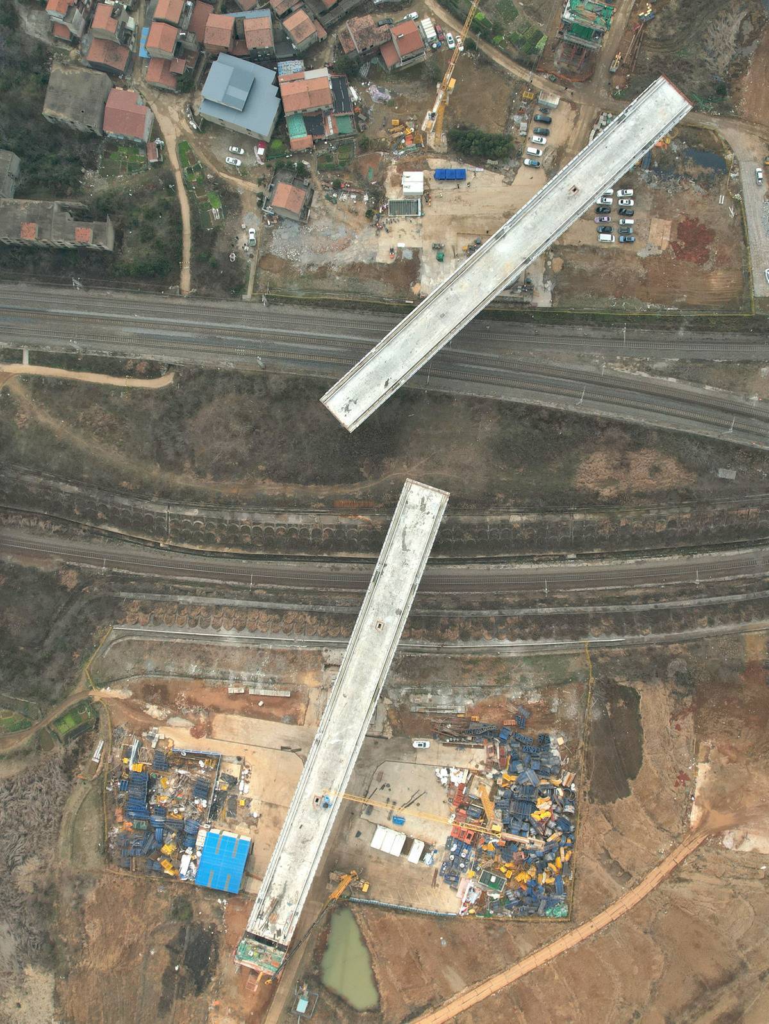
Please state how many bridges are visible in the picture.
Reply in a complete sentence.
In total, 2 bridges can be seen.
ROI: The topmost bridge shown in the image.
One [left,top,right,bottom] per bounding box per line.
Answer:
[321,75,693,431]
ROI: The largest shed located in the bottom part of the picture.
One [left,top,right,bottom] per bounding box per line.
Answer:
[195,823,253,893]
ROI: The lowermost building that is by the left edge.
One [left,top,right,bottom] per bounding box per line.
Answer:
[0,198,114,254]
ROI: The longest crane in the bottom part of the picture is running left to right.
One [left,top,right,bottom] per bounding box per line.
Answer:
[324,774,543,849]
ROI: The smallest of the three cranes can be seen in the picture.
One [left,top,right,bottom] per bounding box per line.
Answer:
[267,866,370,985]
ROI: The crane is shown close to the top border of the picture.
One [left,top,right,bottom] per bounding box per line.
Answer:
[424,0,481,155]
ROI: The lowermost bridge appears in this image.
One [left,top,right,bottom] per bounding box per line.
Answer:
[247,478,449,946]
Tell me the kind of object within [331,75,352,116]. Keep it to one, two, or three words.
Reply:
house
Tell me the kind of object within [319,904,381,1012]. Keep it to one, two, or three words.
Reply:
pond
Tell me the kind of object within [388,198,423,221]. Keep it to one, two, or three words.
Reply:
shed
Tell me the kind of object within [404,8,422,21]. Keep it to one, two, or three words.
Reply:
vehicle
